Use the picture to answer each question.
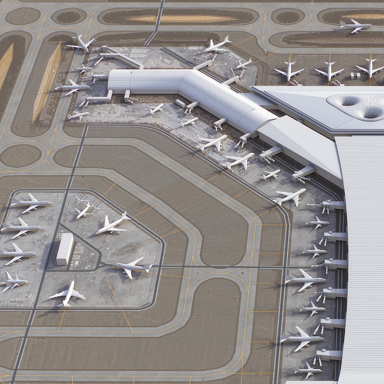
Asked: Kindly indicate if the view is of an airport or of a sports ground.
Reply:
airport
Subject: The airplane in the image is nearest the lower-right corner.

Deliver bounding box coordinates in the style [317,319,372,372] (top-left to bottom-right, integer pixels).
[295,362,321,379]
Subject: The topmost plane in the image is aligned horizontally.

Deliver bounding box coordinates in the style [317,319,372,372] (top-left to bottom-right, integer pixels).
[341,18,372,31]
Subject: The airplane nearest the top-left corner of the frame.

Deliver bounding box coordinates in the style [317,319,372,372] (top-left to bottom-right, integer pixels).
[65,30,94,52]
